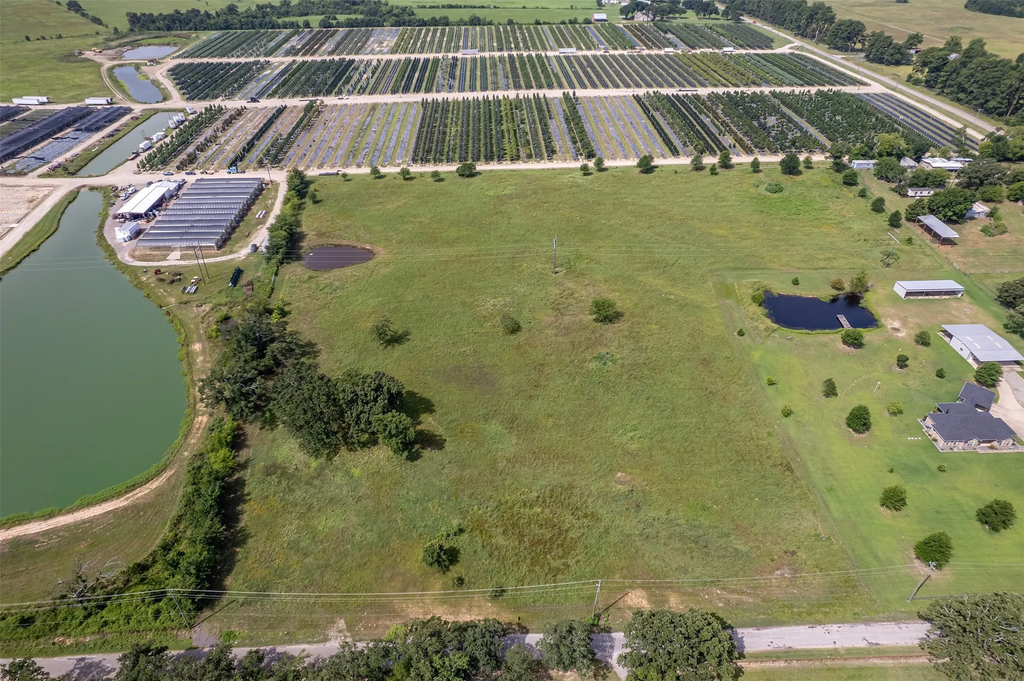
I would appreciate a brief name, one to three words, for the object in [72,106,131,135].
house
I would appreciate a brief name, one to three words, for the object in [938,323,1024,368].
barn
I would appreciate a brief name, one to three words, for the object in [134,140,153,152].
vehicle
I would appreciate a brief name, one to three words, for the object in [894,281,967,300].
shed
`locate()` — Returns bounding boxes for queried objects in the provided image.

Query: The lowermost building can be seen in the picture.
[915,377,1022,446]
